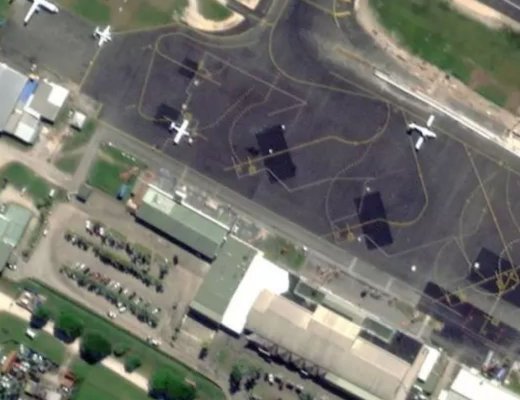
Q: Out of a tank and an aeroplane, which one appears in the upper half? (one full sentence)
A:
It is an aeroplane that can be seen in the upper half.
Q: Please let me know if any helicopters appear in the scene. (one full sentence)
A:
No, the photo shows no helicopter.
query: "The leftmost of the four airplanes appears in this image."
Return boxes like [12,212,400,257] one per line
[21,0,57,22]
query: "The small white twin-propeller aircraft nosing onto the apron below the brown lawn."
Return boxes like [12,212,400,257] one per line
[94,25,111,46]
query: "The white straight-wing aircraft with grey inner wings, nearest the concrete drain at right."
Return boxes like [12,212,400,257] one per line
[409,115,437,150]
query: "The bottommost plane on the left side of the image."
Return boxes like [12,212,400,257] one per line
[169,119,190,143]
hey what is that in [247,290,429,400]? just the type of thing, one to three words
building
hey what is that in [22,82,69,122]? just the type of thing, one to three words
building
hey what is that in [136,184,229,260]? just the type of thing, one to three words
hangar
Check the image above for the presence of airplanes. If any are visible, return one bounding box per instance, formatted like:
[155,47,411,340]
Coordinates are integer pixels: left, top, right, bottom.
[169,119,190,143]
[94,25,111,46]
[21,0,57,22]
[409,115,437,150]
